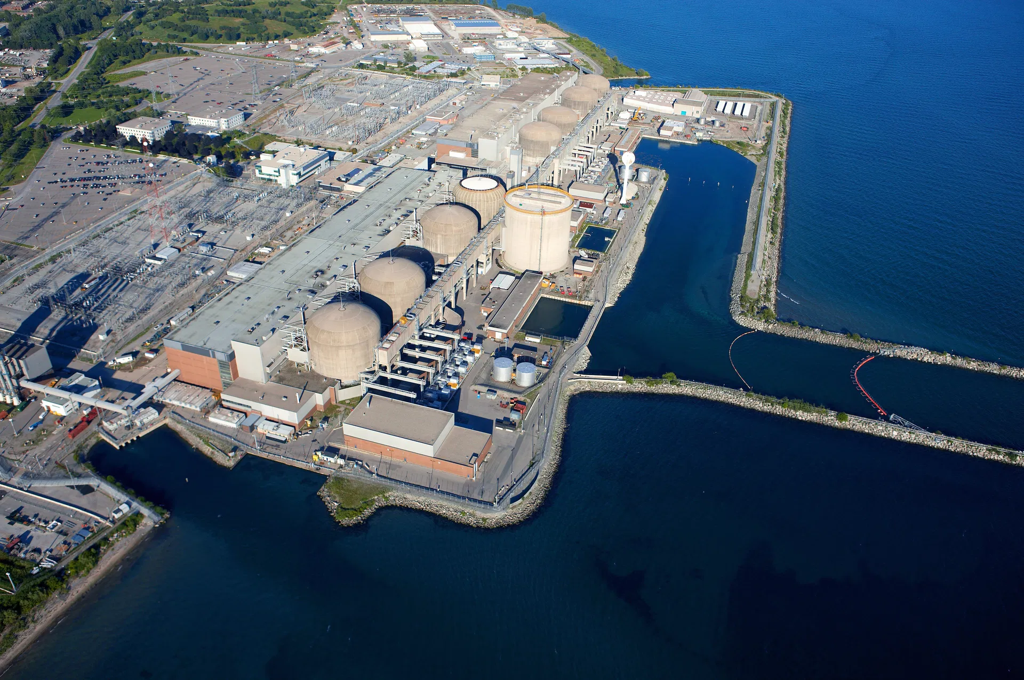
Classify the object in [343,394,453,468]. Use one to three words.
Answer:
building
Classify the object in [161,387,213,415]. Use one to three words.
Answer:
shed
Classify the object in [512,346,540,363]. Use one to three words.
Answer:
building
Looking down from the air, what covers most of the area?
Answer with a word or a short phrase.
water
